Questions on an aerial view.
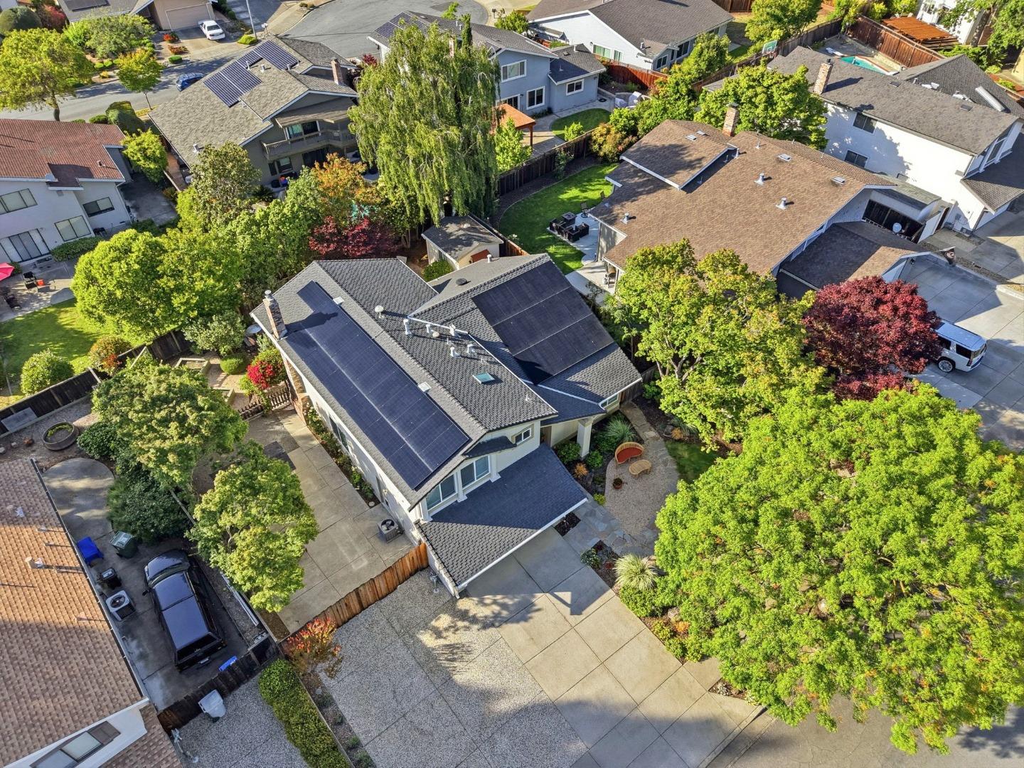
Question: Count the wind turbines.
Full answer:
Not a single wind turbine can be seen.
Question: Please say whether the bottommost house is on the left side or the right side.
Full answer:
The bottommost house sits on the left side.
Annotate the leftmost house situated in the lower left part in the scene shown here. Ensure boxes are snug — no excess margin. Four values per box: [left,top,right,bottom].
[0,453,185,768]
